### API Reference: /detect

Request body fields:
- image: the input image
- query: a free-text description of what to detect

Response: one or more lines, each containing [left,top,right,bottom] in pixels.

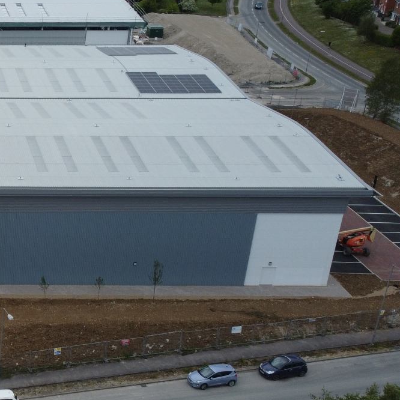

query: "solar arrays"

[100,47,175,54]
[121,72,221,93]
